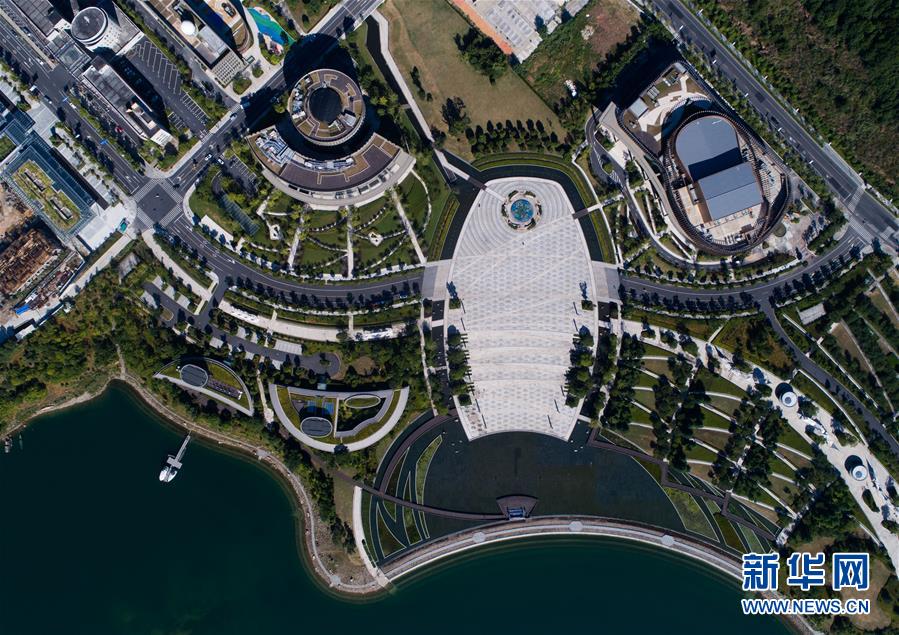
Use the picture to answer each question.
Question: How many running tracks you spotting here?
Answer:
0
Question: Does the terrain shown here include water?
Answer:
Yes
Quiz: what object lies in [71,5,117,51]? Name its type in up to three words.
building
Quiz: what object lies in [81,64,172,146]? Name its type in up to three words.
building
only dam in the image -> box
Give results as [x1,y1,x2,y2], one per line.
[380,516,824,635]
